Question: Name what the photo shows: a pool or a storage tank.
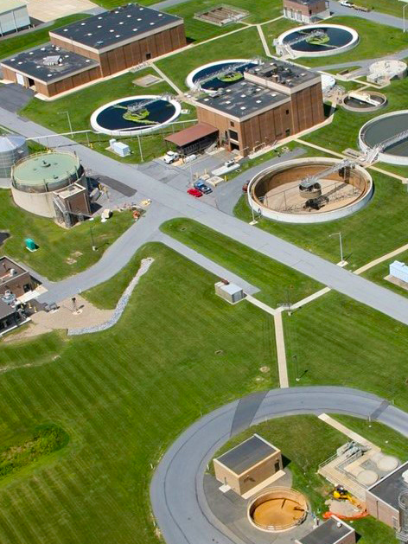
storage tank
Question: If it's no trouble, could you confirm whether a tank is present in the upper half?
Yes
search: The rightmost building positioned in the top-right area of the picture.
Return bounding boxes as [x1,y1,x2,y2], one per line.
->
[283,0,333,21]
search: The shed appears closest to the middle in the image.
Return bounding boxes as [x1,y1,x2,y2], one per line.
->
[215,278,245,303]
